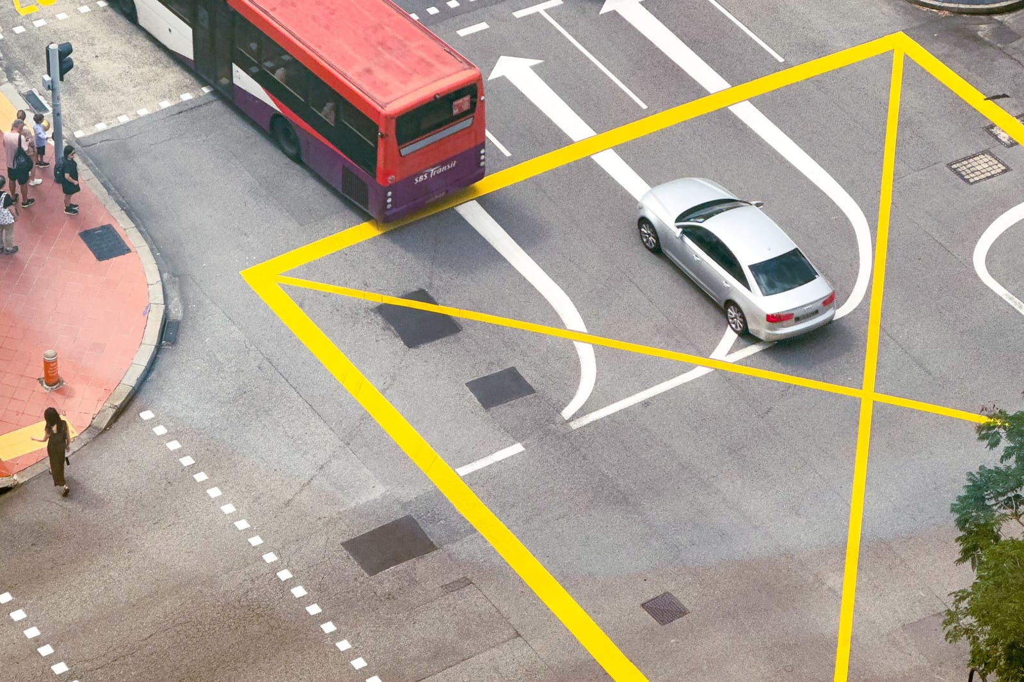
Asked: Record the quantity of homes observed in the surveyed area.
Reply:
0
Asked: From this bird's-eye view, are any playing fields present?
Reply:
No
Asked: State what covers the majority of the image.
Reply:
paved ground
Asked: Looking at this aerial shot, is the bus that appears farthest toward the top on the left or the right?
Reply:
left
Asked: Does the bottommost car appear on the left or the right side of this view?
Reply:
right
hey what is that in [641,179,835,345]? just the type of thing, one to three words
car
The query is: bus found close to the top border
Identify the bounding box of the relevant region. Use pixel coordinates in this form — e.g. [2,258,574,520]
[111,0,488,221]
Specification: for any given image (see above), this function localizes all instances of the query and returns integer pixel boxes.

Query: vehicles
[641,179,835,345]
[111,0,488,221]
